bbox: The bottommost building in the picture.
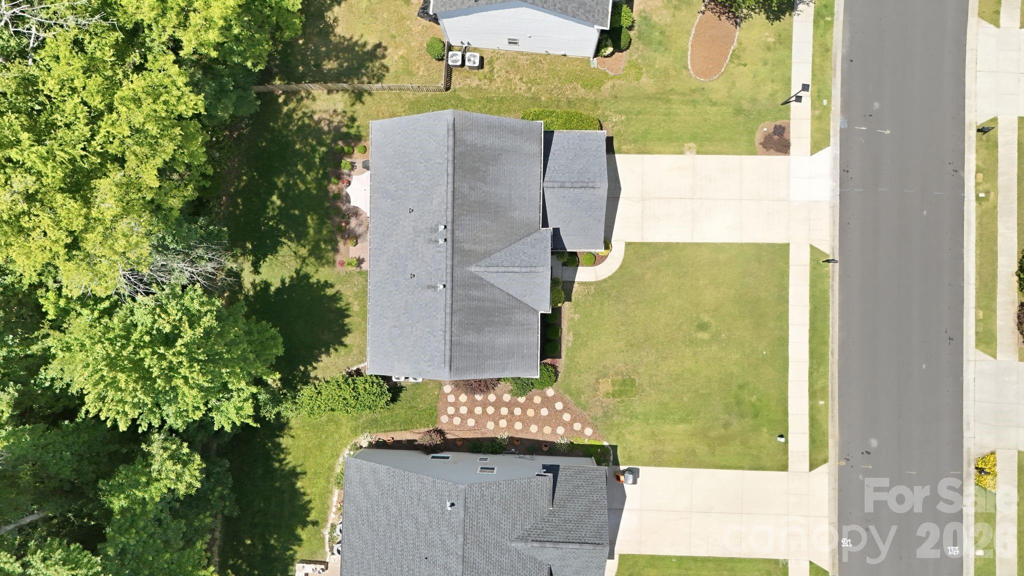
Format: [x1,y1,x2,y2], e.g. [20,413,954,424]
[341,448,610,576]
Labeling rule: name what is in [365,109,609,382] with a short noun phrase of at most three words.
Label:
house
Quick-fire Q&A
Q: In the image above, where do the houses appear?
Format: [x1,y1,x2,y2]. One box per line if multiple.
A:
[428,0,615,57]
[341,448,610,576]
[365,109,609,382]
